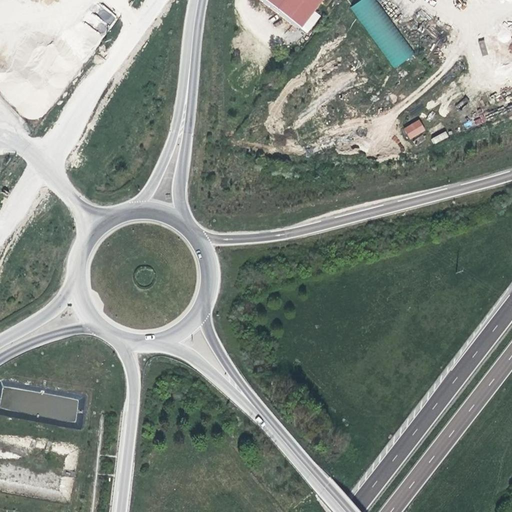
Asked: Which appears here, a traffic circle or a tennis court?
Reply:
traffic circle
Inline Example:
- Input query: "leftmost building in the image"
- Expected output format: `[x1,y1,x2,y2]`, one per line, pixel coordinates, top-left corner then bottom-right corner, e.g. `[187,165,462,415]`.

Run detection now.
[260,0,323,34]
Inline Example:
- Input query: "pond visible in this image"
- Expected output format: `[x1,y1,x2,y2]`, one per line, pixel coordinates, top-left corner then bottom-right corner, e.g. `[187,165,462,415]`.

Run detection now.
[0,379,89,432]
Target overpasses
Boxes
[314,478,360,512]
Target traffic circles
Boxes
[68,200,220,352]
